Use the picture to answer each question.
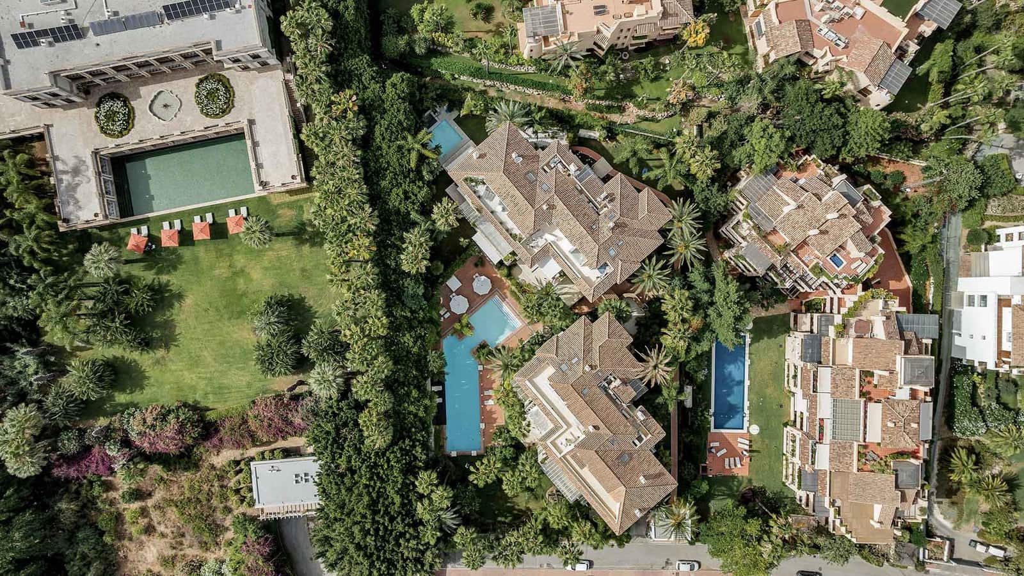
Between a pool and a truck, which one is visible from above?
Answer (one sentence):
Of the two, only a pool appears.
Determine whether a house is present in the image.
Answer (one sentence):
Yes, a house can be made out from above.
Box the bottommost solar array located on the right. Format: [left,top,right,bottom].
[881,58,914,95]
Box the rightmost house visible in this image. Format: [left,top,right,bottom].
[947,228,1024,374]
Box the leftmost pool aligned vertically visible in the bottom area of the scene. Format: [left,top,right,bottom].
[442,296,521,452]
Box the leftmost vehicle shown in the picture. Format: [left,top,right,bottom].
[566,561,589,574]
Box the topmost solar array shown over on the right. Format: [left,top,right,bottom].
[918,0,963,29]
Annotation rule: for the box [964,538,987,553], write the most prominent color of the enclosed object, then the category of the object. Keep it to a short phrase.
white car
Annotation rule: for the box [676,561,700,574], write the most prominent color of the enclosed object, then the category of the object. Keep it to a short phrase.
white vehicle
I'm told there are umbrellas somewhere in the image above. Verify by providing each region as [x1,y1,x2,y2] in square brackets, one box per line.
[126,231,149,254]
[161,229,179,247]
[192,222,210,240]
[747,425,758,434]
[226,214,244,234]
[449,294,468,313]
[472,275,491,294]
